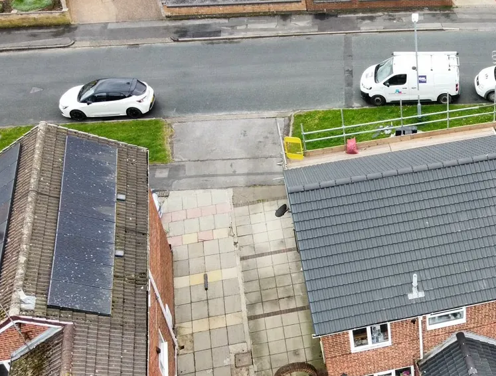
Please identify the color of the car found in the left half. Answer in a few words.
white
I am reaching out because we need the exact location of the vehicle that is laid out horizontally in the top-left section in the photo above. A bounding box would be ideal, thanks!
[57,76,155,119]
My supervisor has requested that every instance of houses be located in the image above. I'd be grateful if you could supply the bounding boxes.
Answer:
[0,125,180,376]
[282,132,496,376]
